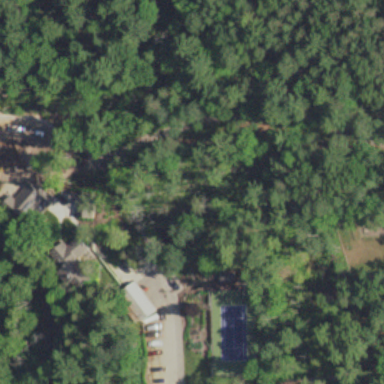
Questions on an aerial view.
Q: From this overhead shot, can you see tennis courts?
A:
Yes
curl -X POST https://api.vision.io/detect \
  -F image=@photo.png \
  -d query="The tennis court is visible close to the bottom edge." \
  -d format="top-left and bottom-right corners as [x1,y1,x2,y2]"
[210,292,254,373]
